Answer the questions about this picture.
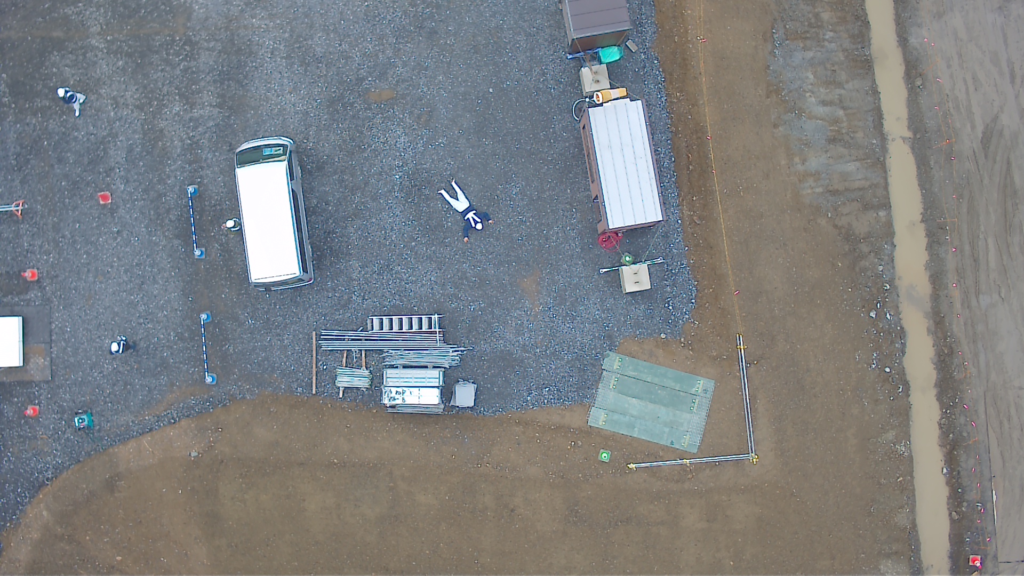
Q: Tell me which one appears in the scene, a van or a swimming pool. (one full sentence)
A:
Of the two, only a van appears.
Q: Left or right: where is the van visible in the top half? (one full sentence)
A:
You can find the van visible in the top half on the left side of the picture.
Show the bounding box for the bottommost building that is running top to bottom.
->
[581,95,666,236]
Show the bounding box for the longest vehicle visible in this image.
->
[235,134,311,291]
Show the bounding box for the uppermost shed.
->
[561,0,632,50]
